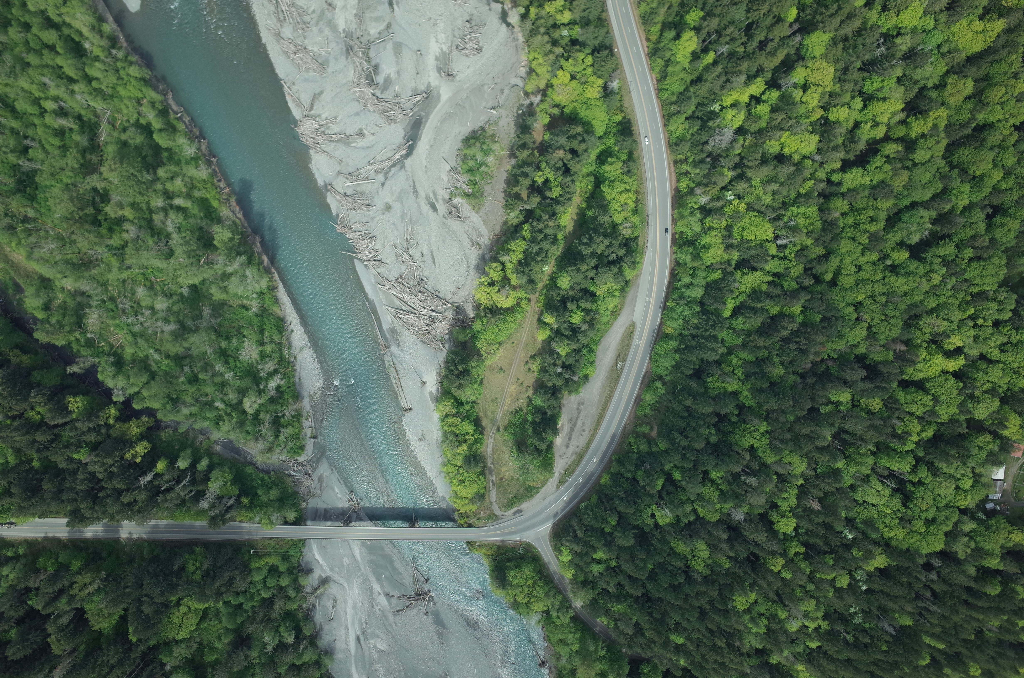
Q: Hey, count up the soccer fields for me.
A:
0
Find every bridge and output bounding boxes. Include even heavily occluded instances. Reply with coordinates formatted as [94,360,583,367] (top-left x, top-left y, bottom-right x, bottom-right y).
[302,520,473,541]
